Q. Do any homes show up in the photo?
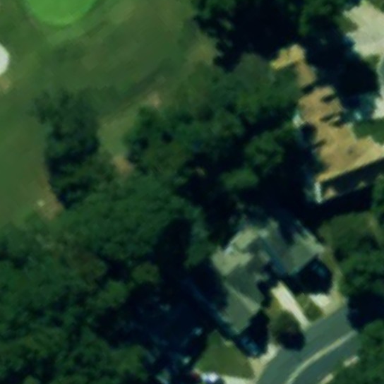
Yes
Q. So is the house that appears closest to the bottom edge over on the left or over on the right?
right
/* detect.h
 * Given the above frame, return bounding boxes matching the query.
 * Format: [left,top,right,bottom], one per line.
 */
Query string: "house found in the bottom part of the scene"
[205,203,329,331]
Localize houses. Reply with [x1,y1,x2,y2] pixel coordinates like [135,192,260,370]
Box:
[205,203,329,331]
[269,42,384,198]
